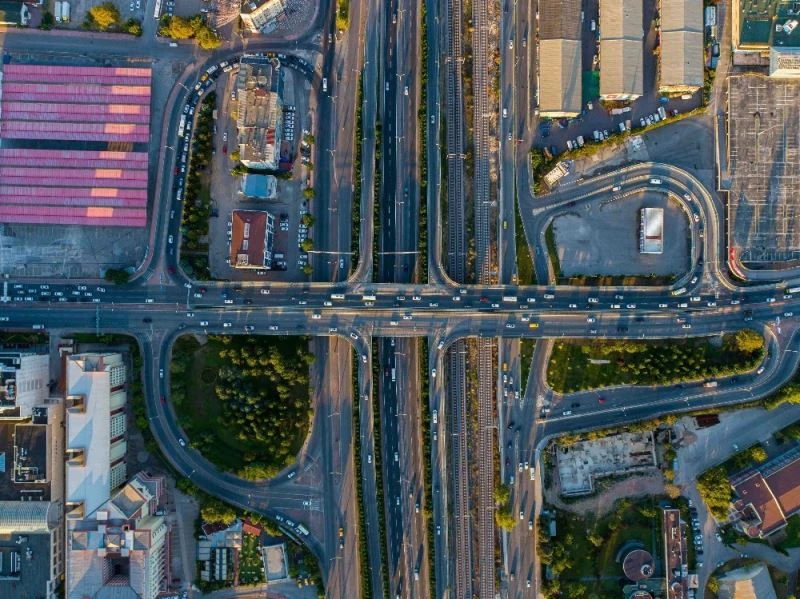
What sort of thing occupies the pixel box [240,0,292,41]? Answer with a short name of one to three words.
building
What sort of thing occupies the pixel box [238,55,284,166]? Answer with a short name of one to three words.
building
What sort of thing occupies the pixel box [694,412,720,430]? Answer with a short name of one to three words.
shed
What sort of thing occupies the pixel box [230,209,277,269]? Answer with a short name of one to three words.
house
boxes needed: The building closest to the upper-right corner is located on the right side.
[723,0,800,77]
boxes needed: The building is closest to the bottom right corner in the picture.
[715,560,775,599]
